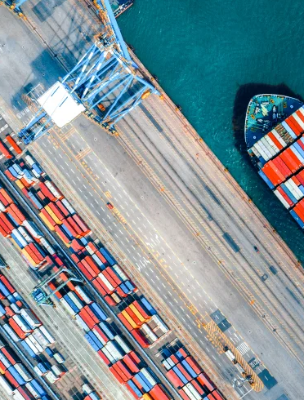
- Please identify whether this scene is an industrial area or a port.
port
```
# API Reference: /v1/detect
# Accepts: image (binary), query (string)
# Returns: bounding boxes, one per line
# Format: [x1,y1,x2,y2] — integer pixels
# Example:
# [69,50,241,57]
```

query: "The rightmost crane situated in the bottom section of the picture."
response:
[25,268,86,311]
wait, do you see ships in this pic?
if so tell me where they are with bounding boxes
[244,93,304,229]
[104,0,134,18]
